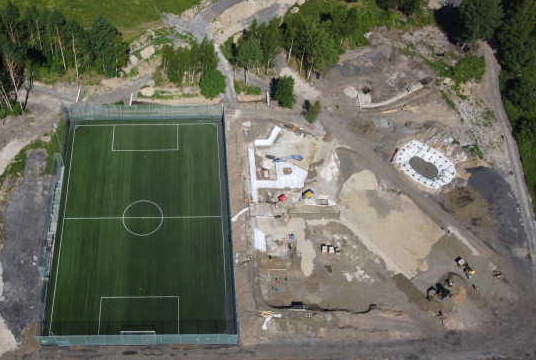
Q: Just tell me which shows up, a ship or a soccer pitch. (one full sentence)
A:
The one in the frame is a soccer pitch.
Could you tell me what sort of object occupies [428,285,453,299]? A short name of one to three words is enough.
vehicle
